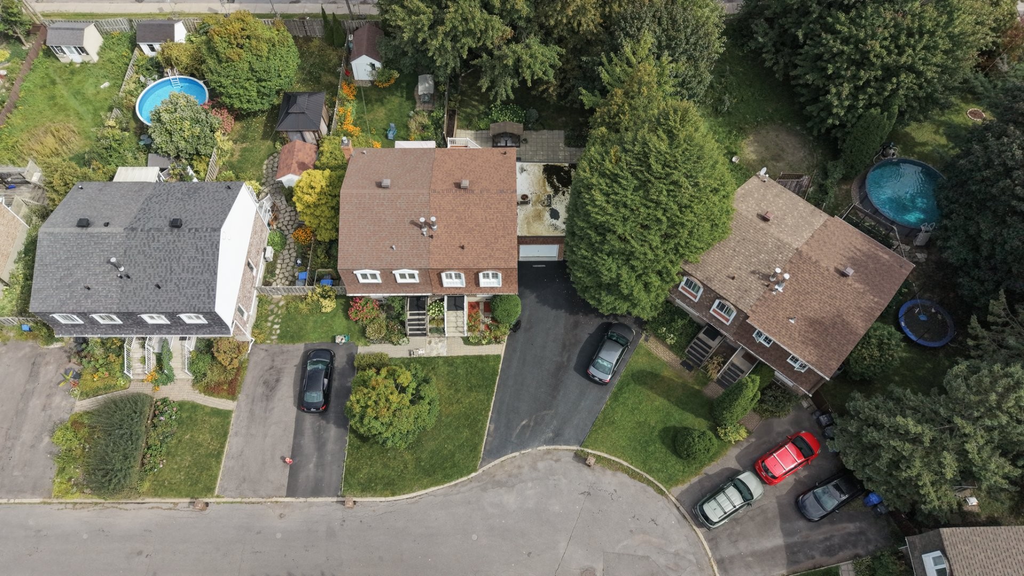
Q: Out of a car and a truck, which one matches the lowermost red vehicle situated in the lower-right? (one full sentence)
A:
In the photo, the lowermost red vehicle situated in the lower-right shows up as a car.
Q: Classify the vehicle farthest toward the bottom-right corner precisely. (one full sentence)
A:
The vehicle farthest toward the bottom-right corner is a car.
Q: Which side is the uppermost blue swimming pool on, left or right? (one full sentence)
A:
The uppermost blue swimming pool appears in the left half of the scene.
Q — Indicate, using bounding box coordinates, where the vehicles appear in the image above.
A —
[792,470,870,523]
[588,322,635,388]
[754,432,821,486]
[693,470,767,532]
[300,348,334,415]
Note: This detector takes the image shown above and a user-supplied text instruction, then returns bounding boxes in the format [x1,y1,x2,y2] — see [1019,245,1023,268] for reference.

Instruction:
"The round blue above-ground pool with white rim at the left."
[136,75,213,136]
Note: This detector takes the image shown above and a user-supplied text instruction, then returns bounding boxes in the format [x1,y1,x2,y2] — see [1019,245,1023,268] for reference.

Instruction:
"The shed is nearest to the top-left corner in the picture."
[46,25,100,63]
